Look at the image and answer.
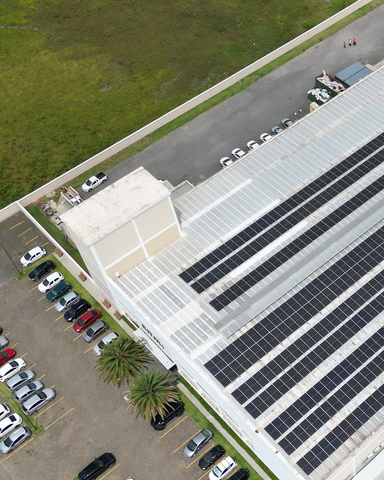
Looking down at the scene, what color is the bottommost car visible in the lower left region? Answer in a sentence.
From above, the bottommost car visible in the lower left region appears black.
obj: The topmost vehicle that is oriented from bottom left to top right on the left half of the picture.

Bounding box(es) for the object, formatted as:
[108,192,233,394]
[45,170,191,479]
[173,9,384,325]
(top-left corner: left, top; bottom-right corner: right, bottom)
[82,172,110,193]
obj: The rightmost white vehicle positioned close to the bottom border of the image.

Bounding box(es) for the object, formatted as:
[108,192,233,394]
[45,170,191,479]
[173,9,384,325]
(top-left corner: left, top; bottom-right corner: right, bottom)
[206,455,239,480]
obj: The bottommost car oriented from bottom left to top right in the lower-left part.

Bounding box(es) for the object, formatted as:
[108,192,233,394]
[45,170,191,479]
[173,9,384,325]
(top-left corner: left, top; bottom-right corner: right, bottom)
[77,452,114,480]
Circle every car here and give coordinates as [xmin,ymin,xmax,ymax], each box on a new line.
[46,280,73,302]
[220,157,233,166]
[20,247,45,268]
[227,466,253,480]
[181,429,213,459]
[196,443,226,473]
[82,318,112,343]
[269,125,283,134]
[0,426,32,455]
[71,308,103,333]
[0,403,14,421]
[246,140,259,150]
[281,118,294,127]
[38,272,65,293]
[0,355,29,382]
[92,331,118,355]
[206,455,239,480]
[5,370,37,395]
[21,389,57,418]
[13,382,45,407]
[258,133,271,142]
[62,298,93,324]
[0,336,12,352]
[28,258,59,283]
[77,452,114,480]
[54,290,83,313]
[0,347,20,368]
[0,413,23,441]
[232,149,244,158]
